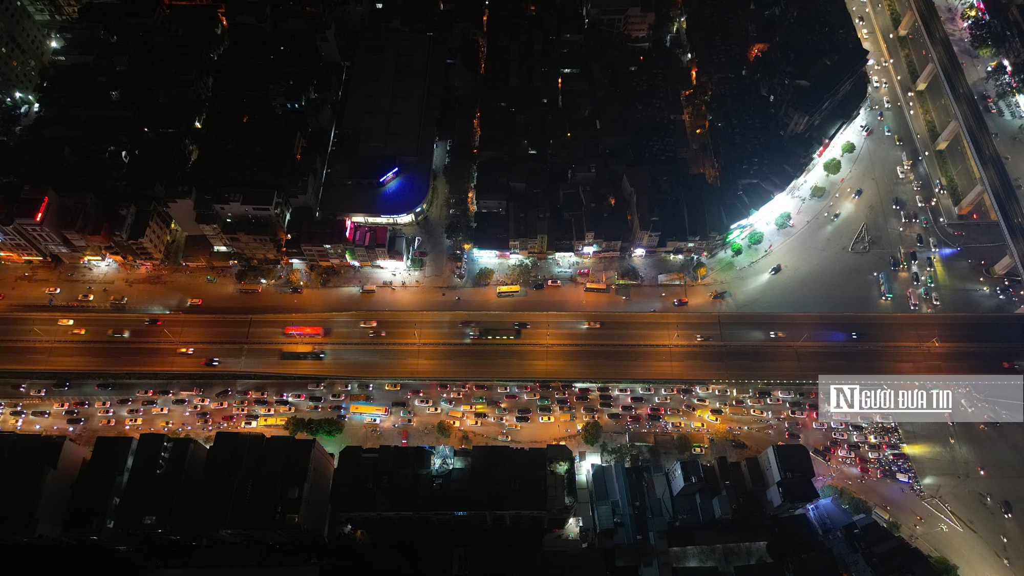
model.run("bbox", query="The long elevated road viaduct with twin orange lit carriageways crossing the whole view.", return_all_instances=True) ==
[0,310,1024,382]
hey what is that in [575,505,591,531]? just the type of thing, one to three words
house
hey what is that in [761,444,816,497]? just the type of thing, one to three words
house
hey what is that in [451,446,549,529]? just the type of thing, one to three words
building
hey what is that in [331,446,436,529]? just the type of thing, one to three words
building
